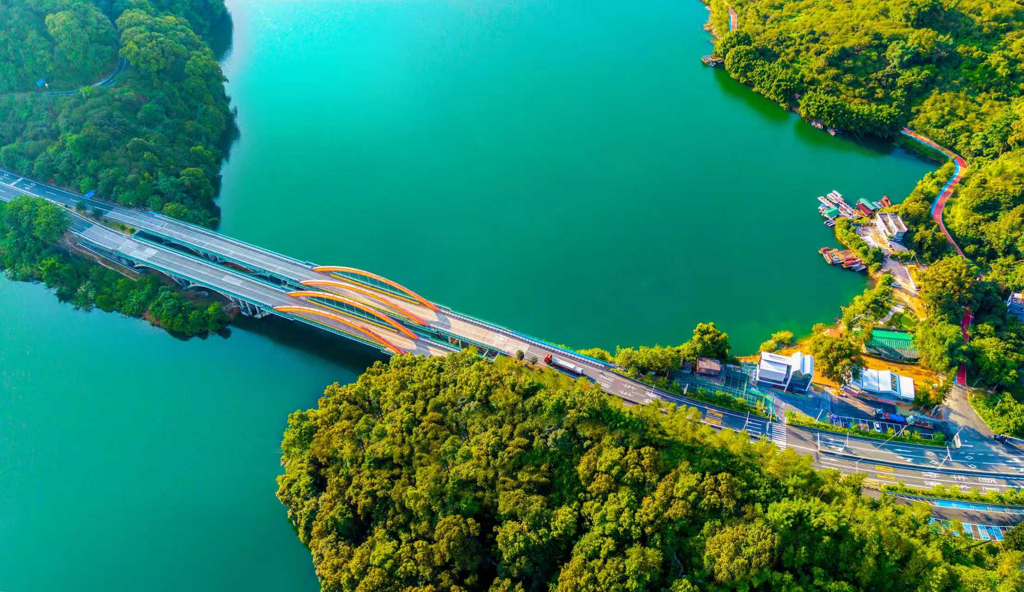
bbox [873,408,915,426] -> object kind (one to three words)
vehicle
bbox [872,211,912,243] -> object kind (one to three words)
house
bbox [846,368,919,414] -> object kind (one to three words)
building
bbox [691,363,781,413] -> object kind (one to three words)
sports court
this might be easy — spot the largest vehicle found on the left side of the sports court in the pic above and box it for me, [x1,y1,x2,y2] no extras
[545,354,588,376]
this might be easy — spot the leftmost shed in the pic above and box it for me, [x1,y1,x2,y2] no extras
[696,357,723,377]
